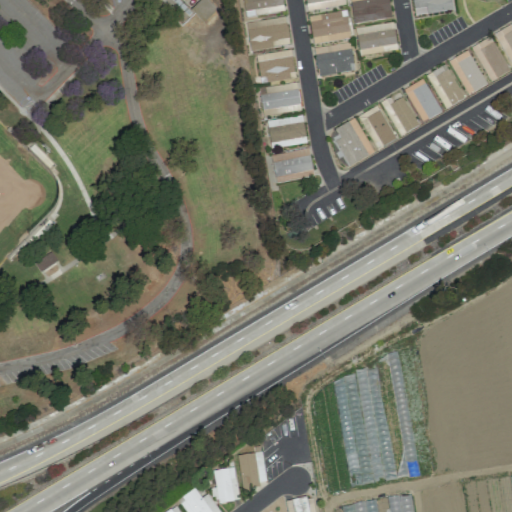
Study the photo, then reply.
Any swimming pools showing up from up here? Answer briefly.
No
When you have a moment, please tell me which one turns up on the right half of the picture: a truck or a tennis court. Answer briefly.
truck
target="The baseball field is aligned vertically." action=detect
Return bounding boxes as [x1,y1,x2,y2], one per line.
[0,122,59,261]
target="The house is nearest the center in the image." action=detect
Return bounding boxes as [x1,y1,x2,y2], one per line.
[272,148,314,182]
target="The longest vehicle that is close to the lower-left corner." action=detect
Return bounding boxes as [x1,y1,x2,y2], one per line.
[28,436,59,454]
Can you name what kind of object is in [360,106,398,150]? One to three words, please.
house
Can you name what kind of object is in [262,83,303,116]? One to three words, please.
house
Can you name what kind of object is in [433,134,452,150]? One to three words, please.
camper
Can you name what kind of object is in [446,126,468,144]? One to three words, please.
camper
